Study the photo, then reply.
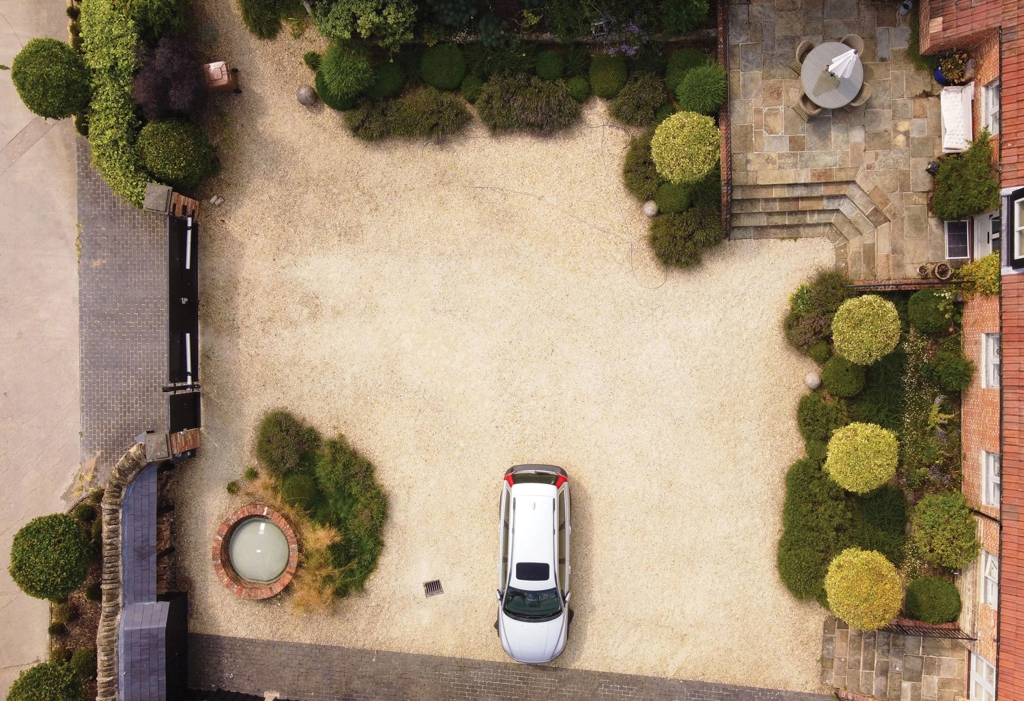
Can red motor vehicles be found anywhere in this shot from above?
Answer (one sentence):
No, the scene contains no red motor vehicle.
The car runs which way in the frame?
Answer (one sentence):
In this picture, the car lies vertically.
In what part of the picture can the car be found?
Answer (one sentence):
The car sits in the bottom section of the image.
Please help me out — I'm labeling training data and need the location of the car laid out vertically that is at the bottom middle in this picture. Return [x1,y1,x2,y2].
[494,462,576,665]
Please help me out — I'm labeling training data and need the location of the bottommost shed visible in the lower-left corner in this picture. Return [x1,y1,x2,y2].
[119,596,188,701]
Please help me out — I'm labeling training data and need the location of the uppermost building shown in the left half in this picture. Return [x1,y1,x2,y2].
[122,461,176,605]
